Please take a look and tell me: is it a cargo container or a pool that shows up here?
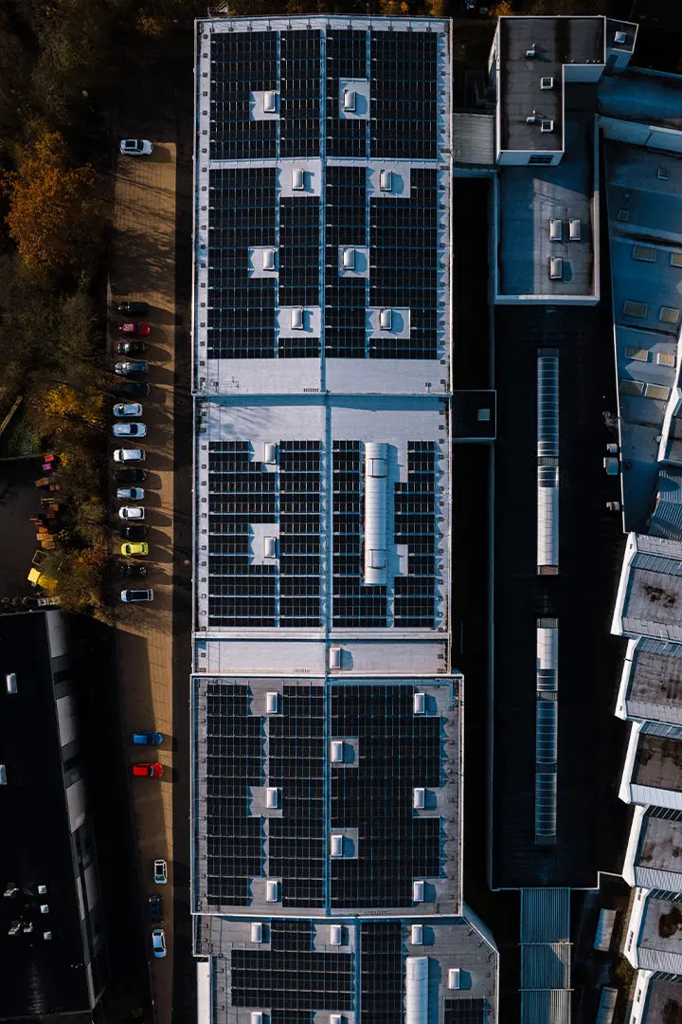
cargo container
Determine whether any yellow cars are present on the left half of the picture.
Yes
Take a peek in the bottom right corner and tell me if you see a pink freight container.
No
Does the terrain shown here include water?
No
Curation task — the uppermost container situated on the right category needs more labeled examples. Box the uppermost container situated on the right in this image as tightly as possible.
[589,903,617,952]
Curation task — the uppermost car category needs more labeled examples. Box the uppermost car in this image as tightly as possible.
[119,137,154,159]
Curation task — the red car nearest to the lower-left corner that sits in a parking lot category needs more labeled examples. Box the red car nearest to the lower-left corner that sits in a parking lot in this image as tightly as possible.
[133,762,165,778]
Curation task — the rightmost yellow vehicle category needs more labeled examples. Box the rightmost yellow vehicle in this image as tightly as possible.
[121,541,151,557]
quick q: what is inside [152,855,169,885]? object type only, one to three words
car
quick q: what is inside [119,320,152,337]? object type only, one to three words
car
